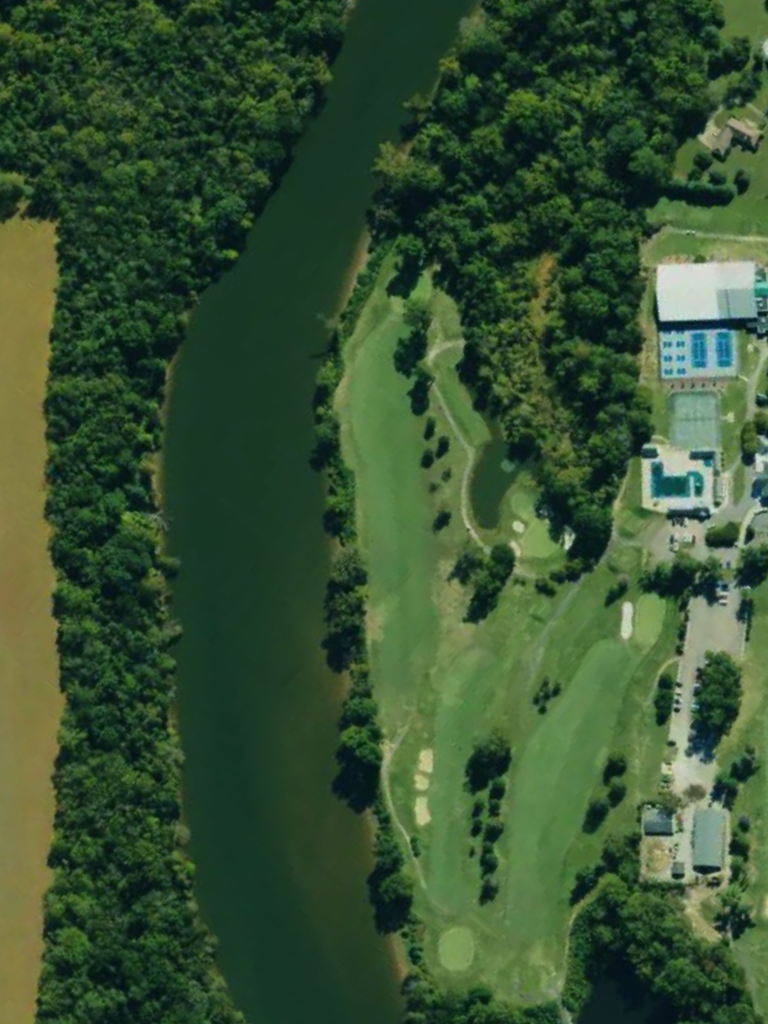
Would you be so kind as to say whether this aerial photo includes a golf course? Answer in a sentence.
Yes, a golf course can be made out from above.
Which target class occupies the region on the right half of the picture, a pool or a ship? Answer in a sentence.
The one visible on the right half of the picture is a pool.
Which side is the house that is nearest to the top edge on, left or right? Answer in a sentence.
The house that is nearest to the top edge appears in the right half of the scene.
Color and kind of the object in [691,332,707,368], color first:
blue tennis court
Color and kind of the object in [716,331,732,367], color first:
blue tennis court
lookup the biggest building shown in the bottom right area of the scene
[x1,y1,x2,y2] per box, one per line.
[694,810,727,866]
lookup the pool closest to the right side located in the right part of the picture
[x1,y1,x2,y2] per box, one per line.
[642,446,715,516]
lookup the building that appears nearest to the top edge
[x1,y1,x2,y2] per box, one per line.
[712,119,763,155]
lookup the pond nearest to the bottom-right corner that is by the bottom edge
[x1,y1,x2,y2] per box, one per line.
[572,958,671,1024]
